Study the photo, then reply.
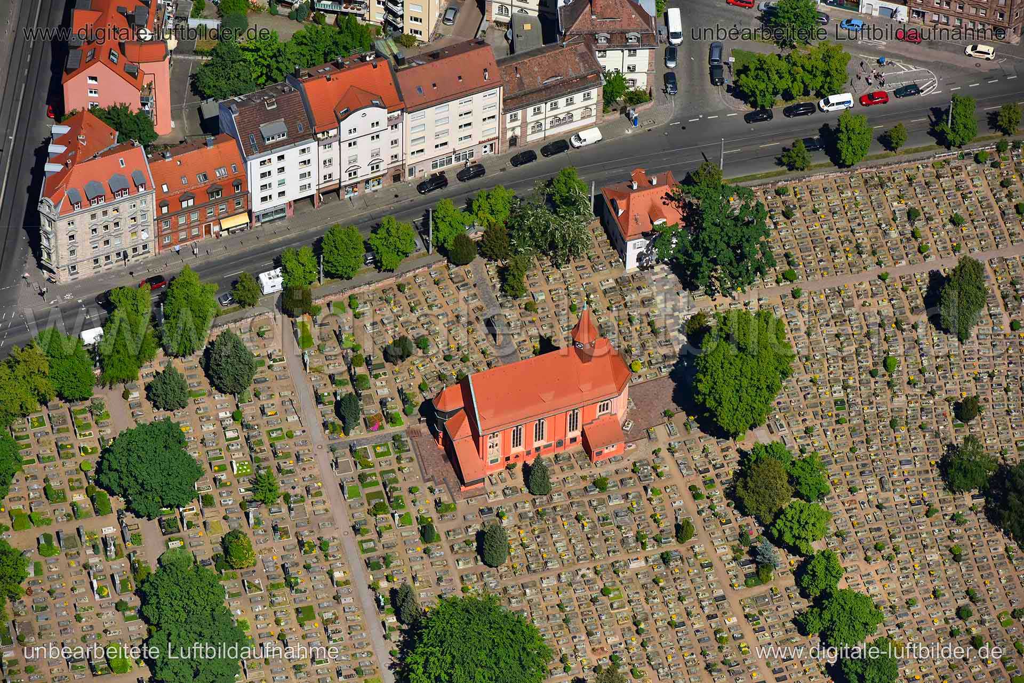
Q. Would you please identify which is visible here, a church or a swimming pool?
church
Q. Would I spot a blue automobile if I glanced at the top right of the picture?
Yes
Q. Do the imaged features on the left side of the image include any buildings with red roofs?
Yes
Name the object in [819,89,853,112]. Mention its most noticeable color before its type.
white vehicle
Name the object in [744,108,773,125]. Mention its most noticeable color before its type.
black car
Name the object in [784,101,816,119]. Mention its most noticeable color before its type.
black car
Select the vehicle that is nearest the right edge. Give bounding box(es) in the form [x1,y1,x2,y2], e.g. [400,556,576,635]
[965,44,995,61]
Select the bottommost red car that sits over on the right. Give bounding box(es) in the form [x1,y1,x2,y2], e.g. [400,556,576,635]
[860,90,888,106]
